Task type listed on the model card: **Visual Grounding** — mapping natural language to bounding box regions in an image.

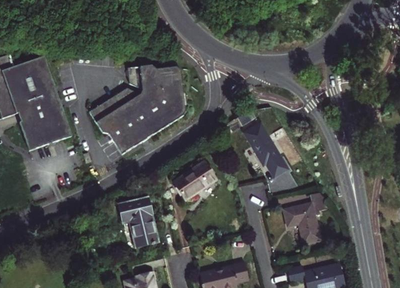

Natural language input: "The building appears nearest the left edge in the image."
[0,55,72,152]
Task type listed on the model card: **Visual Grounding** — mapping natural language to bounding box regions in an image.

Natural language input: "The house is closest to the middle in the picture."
[172,160,219,202]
